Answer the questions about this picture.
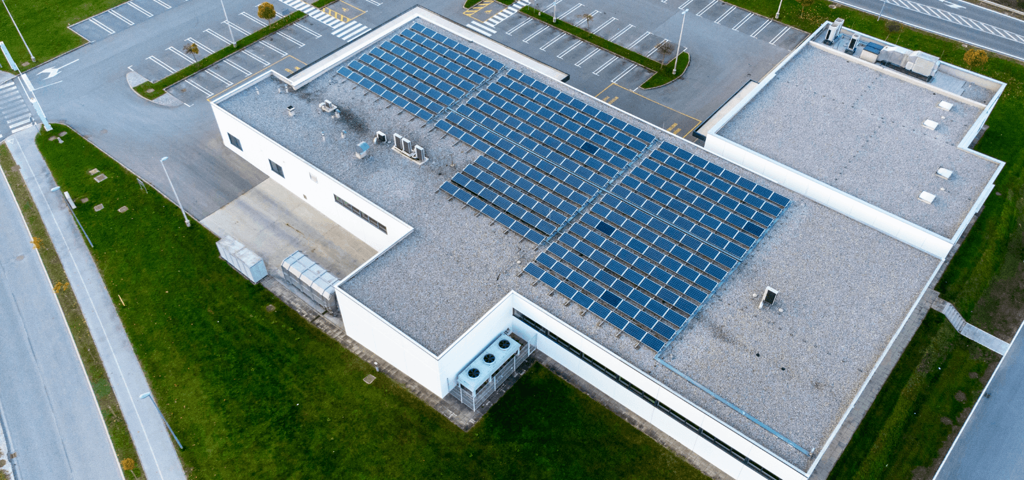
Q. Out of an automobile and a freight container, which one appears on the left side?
freight container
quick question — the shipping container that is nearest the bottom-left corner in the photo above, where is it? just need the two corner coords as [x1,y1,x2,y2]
[213,232,269,285]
